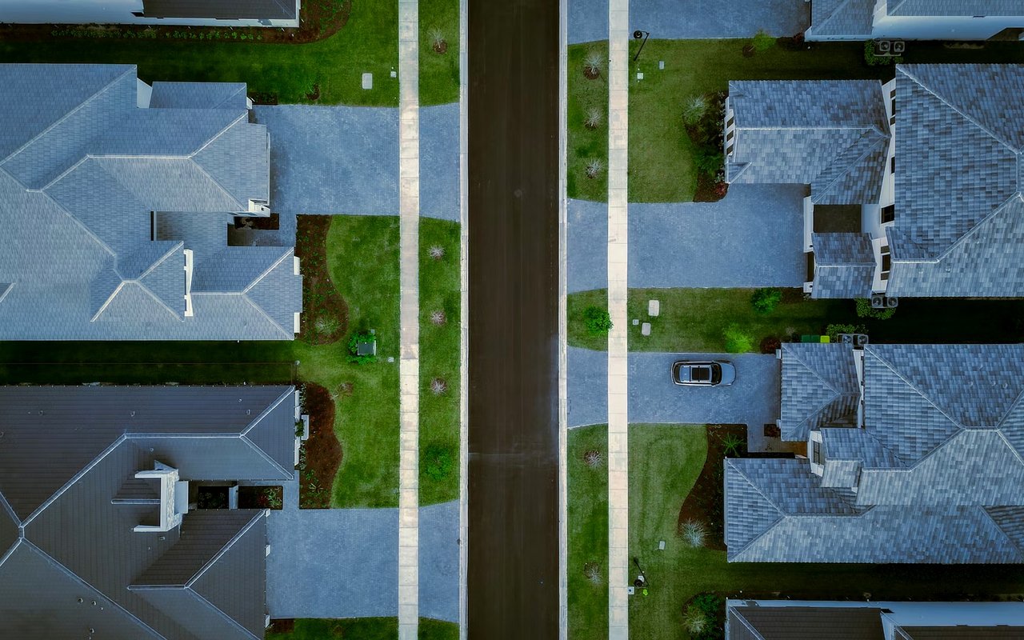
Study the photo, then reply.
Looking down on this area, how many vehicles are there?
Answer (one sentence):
The picture shows 1 vehicle.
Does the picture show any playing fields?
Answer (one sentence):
No, no playing field is visible in the scene.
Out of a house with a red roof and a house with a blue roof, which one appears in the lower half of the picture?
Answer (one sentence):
It is a house with a blue roof that can be seen in the lower half of the picture.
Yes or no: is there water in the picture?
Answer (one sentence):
No, water can't be seen anywhere here.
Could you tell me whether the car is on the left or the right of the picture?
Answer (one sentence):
The car is on the right side of the image.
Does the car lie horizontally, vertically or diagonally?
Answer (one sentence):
The car is laid out horizontally.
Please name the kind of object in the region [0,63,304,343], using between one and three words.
house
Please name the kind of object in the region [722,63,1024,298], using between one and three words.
house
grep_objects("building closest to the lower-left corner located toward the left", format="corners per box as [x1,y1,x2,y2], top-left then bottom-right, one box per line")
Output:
[0,384,299,640]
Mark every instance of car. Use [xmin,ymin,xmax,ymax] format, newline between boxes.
[673,360,737,388]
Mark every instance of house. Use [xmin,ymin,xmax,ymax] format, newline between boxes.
[722,63,1024,298]
[805,0,1024,40]
[0,384,299,640]
[0,63,304,343]
[724,343,1024,563]
[725,600,1024,640]
[0,0,301,26]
